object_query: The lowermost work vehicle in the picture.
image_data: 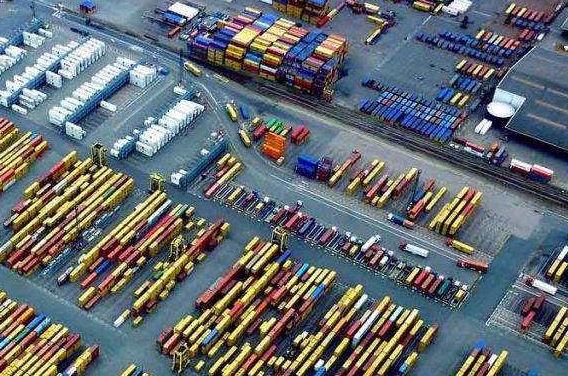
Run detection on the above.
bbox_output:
[172,344,191,370]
